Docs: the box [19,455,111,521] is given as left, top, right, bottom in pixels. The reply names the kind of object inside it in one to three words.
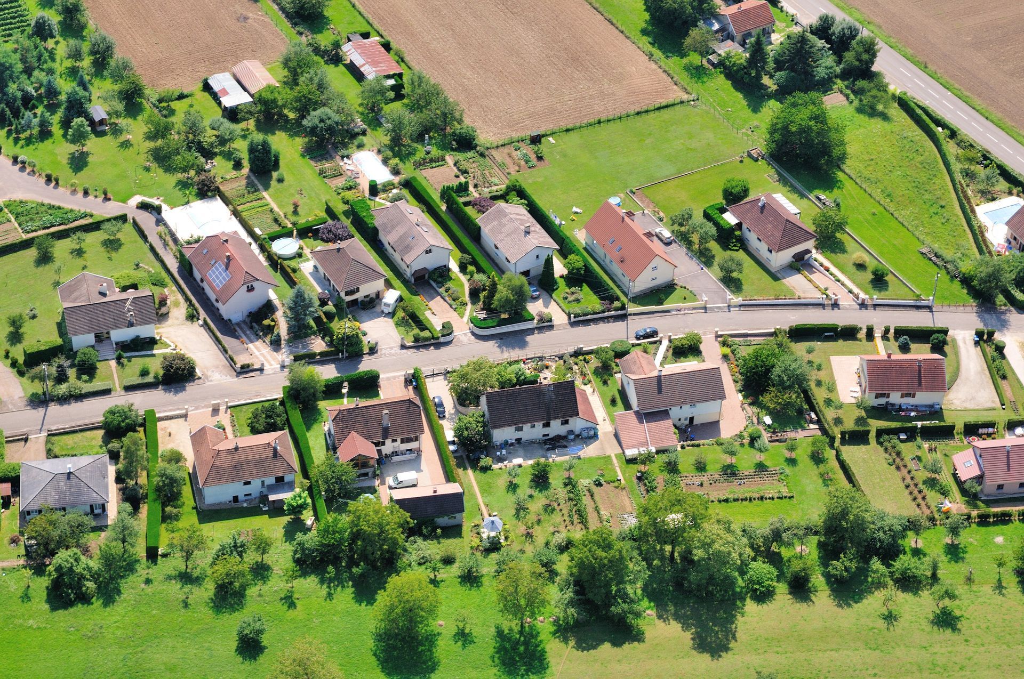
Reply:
house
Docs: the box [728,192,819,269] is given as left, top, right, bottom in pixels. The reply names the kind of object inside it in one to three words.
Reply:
house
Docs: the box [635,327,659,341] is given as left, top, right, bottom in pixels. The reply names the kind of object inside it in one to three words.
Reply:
car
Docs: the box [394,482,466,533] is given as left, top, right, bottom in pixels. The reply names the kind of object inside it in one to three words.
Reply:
shed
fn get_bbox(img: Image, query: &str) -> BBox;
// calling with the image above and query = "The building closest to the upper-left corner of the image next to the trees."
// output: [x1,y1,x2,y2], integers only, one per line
[90,105,111,132]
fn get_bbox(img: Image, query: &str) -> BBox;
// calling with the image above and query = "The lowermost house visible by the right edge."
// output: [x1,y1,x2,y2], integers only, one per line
[947,439,1024,497]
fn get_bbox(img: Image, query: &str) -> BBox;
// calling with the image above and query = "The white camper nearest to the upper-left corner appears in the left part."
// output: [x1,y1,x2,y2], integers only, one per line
[381,288,402,316]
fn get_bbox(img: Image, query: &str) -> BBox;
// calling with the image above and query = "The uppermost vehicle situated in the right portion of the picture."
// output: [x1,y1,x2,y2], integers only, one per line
[655,227,675,243]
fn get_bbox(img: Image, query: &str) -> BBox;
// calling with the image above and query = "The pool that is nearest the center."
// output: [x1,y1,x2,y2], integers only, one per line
[608,195,623,208]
